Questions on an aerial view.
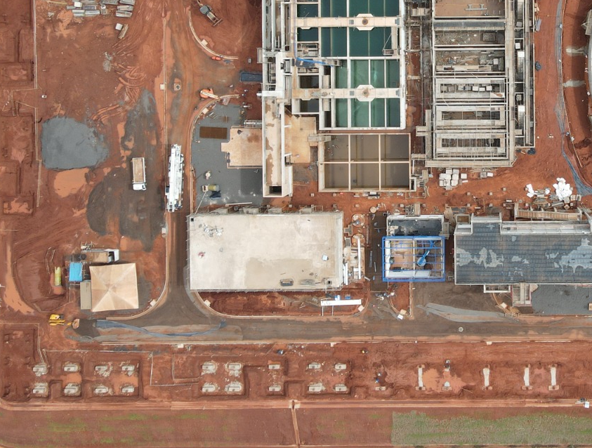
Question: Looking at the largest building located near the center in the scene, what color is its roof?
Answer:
white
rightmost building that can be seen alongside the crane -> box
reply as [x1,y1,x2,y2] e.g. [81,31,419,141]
[185,206,347,293]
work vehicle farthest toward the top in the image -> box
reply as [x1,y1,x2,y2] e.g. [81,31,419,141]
[194,0,220,26]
